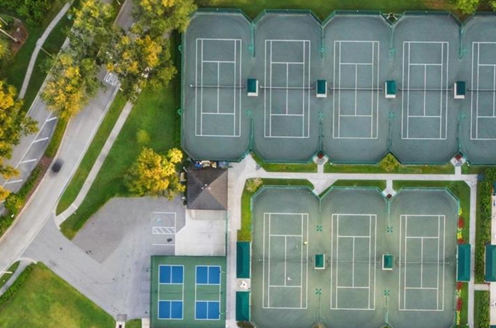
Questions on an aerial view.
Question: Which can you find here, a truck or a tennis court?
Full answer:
It is a tennis court that can be seen here.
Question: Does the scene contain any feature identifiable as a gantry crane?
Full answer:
No, I find no gantry crane anywhere in the image.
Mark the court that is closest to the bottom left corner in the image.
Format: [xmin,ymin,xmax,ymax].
[151,256,189,328]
